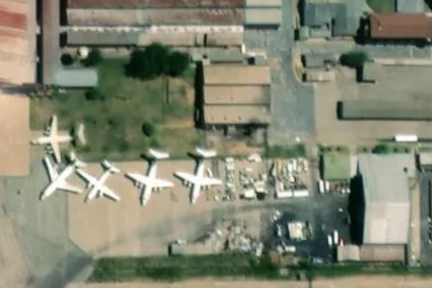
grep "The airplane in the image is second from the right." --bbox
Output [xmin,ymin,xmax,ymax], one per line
[127,149,175,205]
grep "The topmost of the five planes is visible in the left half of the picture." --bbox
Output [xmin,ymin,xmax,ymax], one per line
[30,115,85,162]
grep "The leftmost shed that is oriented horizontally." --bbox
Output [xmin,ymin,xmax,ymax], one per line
[54,69,97,88]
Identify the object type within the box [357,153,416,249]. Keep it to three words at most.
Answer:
building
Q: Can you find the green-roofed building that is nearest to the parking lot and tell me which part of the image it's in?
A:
right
